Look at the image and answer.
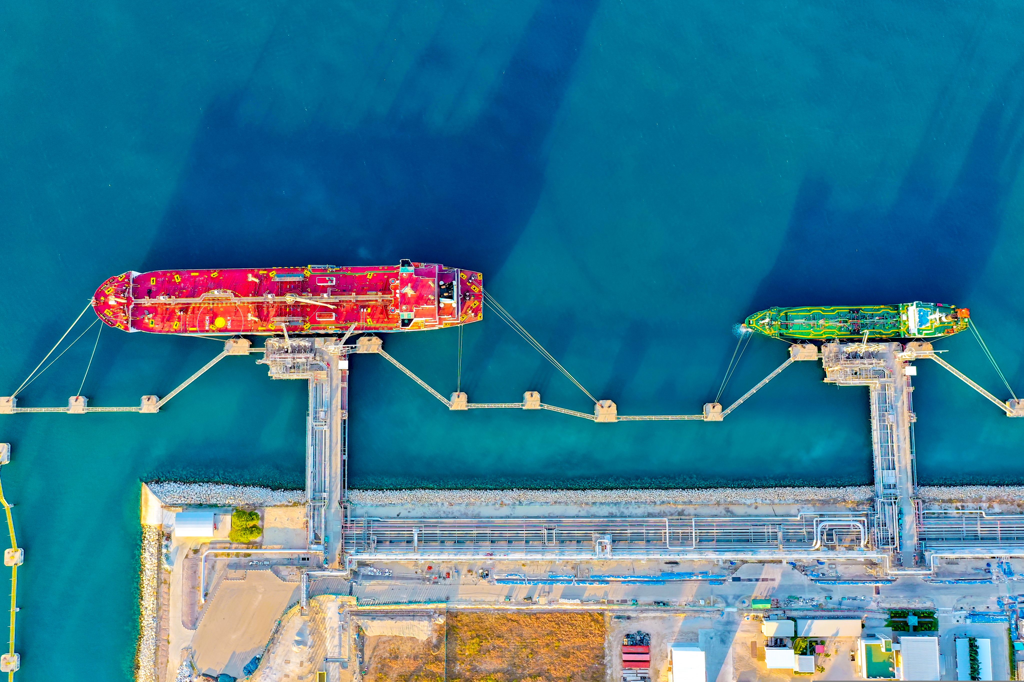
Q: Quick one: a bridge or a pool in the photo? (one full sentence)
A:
I can see a bridge in this picture.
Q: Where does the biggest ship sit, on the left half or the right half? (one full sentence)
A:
The biggest ship is on the left side of the image.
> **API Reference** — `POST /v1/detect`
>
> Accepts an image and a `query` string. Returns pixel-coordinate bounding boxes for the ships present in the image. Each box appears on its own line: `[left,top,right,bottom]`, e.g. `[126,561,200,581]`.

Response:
[738,301,976,341]
[91,259,484,337]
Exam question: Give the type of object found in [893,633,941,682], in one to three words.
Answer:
building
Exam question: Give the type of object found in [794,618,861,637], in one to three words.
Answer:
building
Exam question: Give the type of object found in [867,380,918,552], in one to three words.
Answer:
bridge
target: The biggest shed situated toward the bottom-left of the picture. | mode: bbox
[173,512,217,536]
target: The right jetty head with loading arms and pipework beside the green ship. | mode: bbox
[819,334,912,391]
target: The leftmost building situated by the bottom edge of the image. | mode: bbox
[667,644,706,682]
